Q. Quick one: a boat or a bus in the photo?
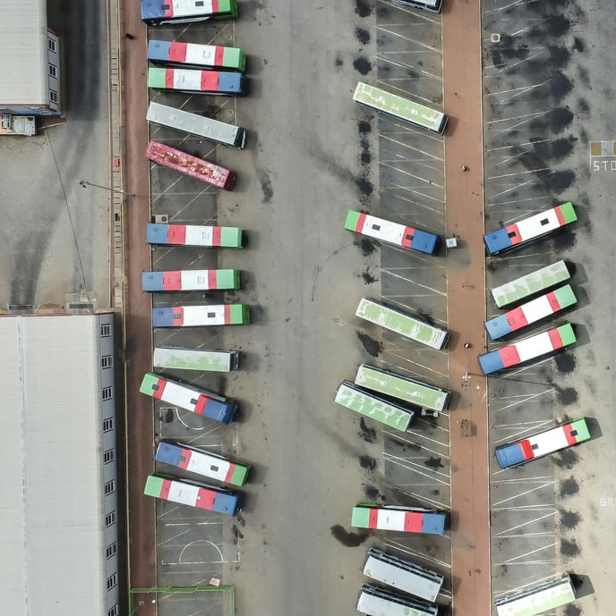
bus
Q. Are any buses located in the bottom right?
Yes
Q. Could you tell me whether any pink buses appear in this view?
Yes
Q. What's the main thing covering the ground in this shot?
paved ground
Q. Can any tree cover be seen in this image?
No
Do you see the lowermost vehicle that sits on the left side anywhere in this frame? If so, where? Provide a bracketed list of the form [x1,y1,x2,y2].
[145,470,246,516]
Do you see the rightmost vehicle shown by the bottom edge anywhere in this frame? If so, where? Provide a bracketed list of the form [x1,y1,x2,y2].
[494,573,575,616]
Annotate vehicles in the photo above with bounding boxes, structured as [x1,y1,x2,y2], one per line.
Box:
[363,551,442,600]
[145,470,246,516]
[144,269,245,294]
[354,295,449,348]
[146,102,249,150]
[352,502,448,534]
[154,346,239,374]
[490,260,571,310]
[483,284,578,342]
[476,322,577,377]
[145,140,238,192]
[494,416,591,470]
[154,304,252,328]
[382,0,442,15]
[148,68,250,98]
[148,39,249,73]
[140,370,242,425]
[482,201,578,257]
[356,585,438,616]
[156,437,257,485]
[141,0,239,27]
[353,81,448,135]
[147,221,250,248]
[334,381,416,430]
[494,573,575,616]
[355,362,449,409]
[344,210,441,257]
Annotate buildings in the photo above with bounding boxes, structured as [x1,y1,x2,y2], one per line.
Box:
[0,316,127,616]
[0,0,66,118]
